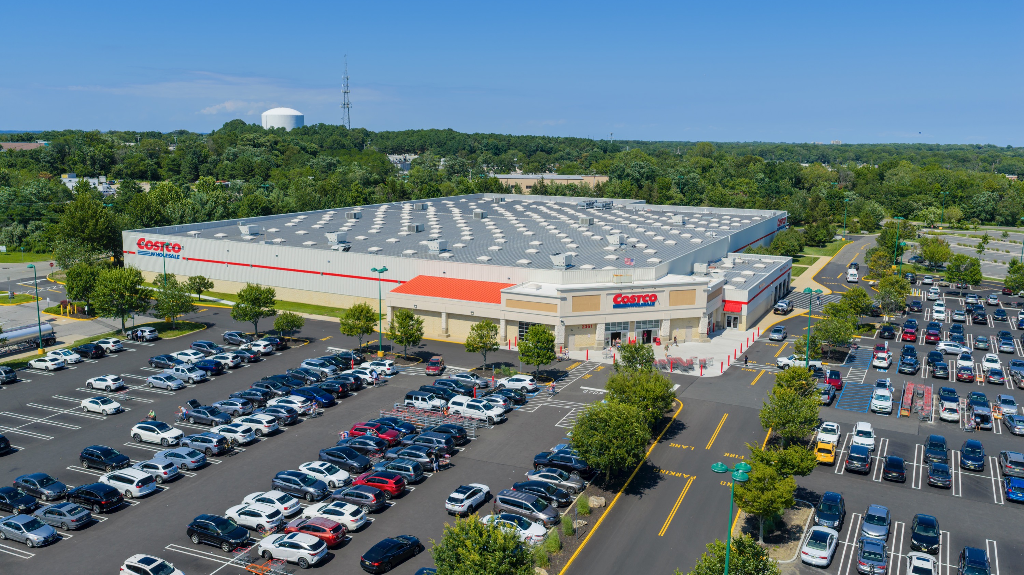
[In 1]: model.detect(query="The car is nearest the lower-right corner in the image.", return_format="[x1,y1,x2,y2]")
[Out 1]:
[956,548,992,575]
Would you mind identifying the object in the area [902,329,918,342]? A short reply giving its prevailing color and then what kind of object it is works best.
red vehicle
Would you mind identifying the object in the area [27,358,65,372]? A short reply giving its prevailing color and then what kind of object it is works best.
white car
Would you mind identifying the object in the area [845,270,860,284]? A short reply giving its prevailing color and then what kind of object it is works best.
white vehicle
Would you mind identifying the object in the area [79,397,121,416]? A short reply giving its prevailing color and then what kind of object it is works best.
white car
